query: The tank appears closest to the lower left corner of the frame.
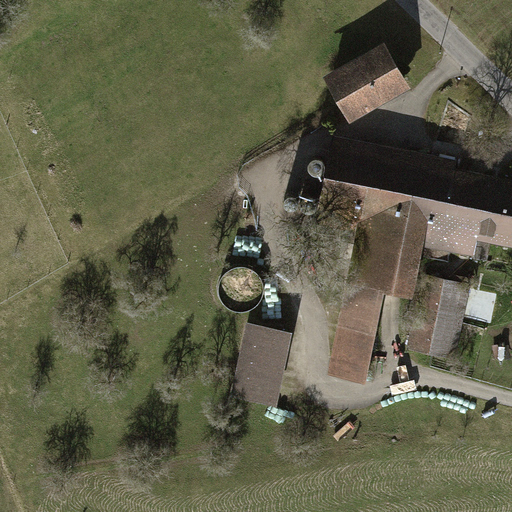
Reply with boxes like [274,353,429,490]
[218,266,264,312]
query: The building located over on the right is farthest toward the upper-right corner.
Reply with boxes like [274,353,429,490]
[324,44,410,123]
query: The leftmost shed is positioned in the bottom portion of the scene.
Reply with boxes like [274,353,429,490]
[235,322,292,406]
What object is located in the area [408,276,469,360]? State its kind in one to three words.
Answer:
barn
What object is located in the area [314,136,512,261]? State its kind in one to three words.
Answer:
barn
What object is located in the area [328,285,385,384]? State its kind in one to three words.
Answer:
shed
